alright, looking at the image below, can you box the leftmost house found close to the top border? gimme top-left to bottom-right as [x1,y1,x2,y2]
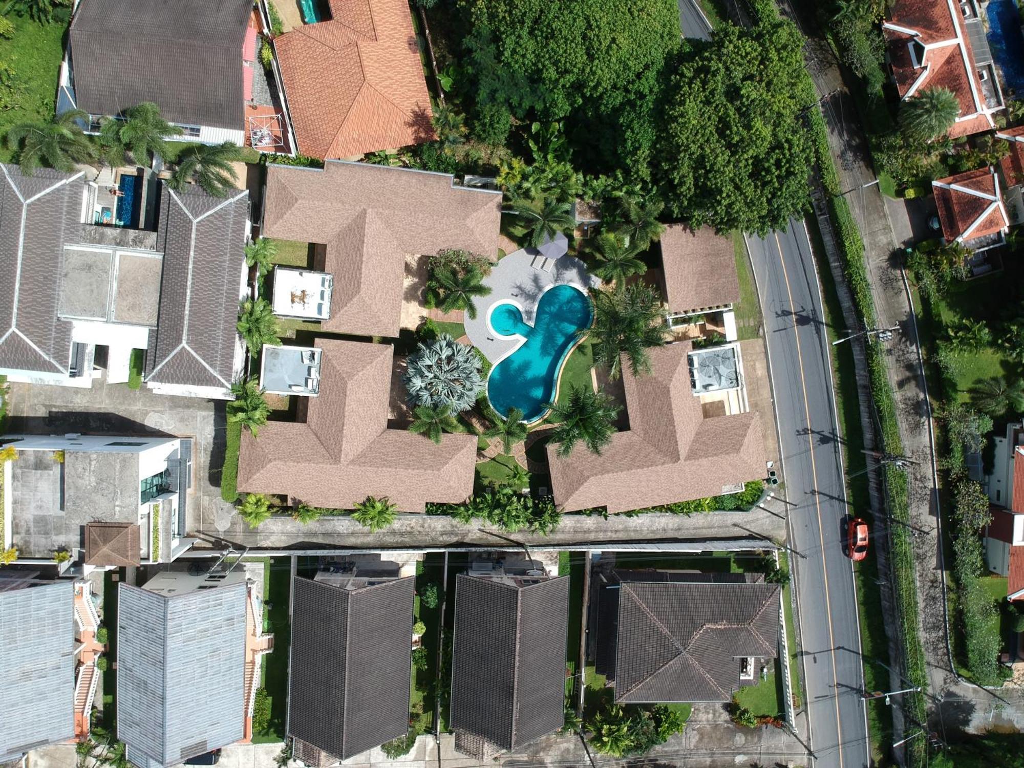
[57,0,256,149]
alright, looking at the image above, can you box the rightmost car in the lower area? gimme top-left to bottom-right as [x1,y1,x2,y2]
[846,516,873,562]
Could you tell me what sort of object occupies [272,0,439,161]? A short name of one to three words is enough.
house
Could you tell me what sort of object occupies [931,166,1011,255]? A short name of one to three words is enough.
house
